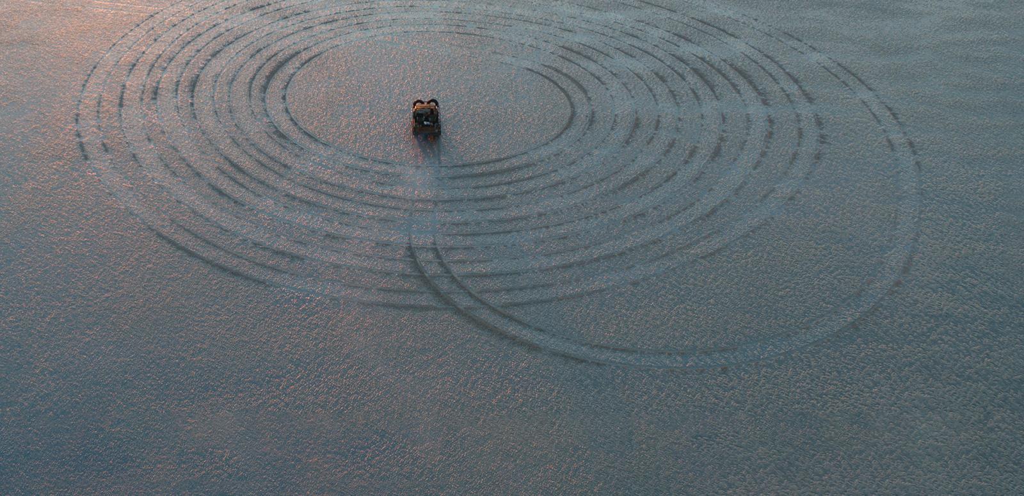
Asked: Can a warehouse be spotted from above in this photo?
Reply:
No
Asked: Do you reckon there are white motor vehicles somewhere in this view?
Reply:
No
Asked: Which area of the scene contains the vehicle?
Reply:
top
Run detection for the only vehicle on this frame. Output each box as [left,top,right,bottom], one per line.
[413,98,442,139]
